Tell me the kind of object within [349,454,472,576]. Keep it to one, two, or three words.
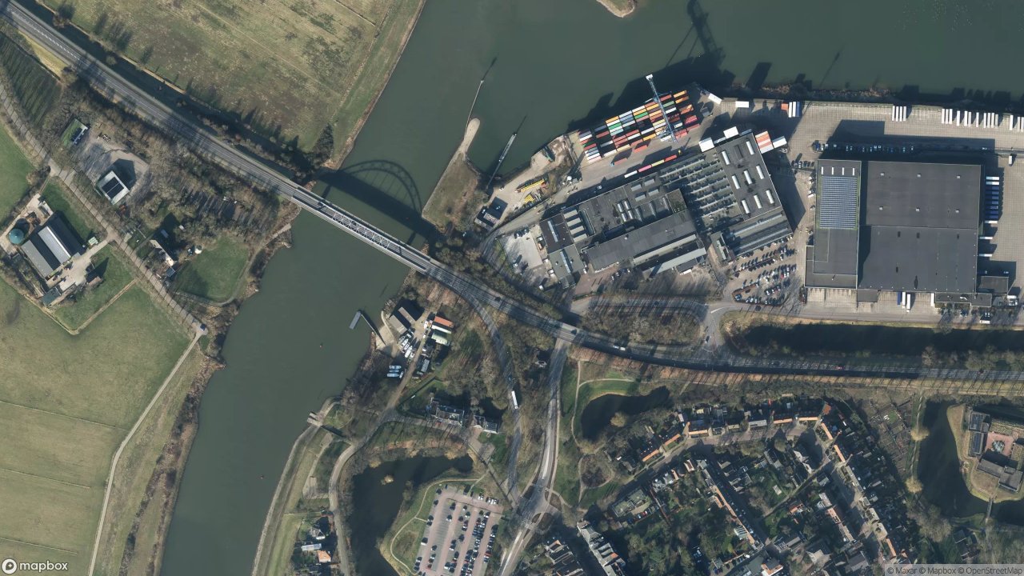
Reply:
pond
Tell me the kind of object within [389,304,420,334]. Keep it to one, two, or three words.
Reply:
shed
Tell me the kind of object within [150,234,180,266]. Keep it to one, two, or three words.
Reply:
house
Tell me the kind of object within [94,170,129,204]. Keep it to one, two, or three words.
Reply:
building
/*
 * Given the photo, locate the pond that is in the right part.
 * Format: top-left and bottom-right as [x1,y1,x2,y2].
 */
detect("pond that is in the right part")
[581,386,669,439]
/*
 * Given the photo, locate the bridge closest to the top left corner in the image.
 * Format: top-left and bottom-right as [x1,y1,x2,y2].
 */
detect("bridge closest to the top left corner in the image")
[296,185,436,275]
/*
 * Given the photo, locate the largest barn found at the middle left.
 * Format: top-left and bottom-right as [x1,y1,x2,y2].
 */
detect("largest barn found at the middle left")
[21,219,81,278]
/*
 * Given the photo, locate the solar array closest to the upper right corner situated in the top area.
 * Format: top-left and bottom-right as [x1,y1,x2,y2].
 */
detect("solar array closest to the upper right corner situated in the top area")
[821,176,858,228]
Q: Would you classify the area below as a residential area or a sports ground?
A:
residential area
